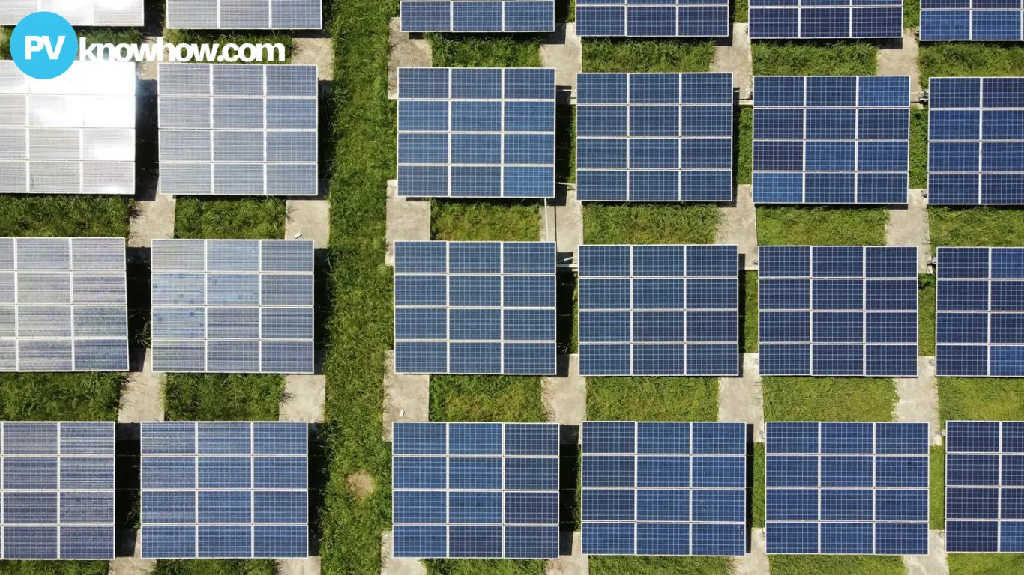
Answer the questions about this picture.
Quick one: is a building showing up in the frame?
No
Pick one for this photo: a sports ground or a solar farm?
solar farm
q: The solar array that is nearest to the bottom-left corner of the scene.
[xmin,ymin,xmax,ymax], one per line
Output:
[0,422,128,559]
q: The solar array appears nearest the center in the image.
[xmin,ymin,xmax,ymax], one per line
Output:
[394,242,557,374]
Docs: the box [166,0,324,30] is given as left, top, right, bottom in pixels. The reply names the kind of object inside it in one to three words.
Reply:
solar array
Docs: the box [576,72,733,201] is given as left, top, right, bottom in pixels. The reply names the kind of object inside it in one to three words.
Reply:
solar array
